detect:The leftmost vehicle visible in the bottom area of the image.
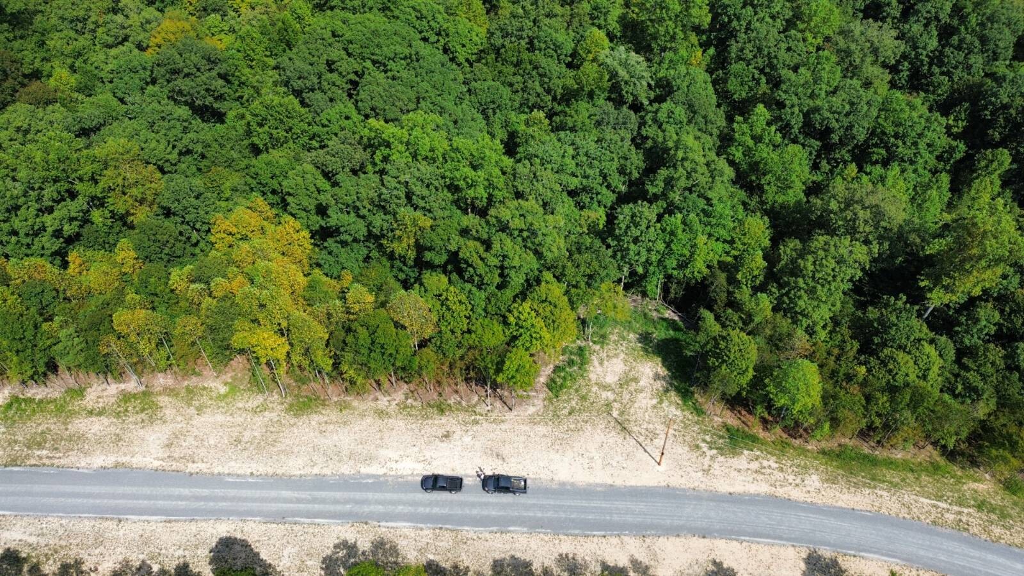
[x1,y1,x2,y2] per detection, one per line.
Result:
[421,475,462,496]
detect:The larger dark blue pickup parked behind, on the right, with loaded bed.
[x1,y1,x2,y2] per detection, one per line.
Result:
[483,476,529,499]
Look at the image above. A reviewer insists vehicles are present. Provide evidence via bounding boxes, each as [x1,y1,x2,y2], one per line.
[421,475,462,496]
[483,476,529,499]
